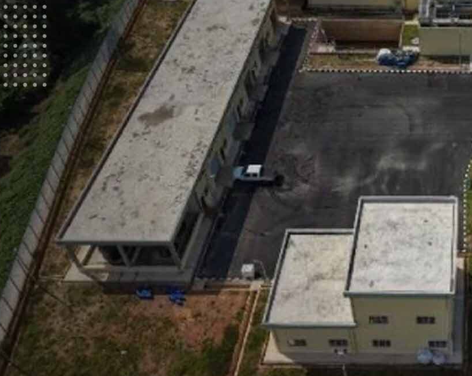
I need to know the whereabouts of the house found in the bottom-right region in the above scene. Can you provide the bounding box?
[264,197,464,366]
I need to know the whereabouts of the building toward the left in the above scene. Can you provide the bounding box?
[57,0,292,286]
